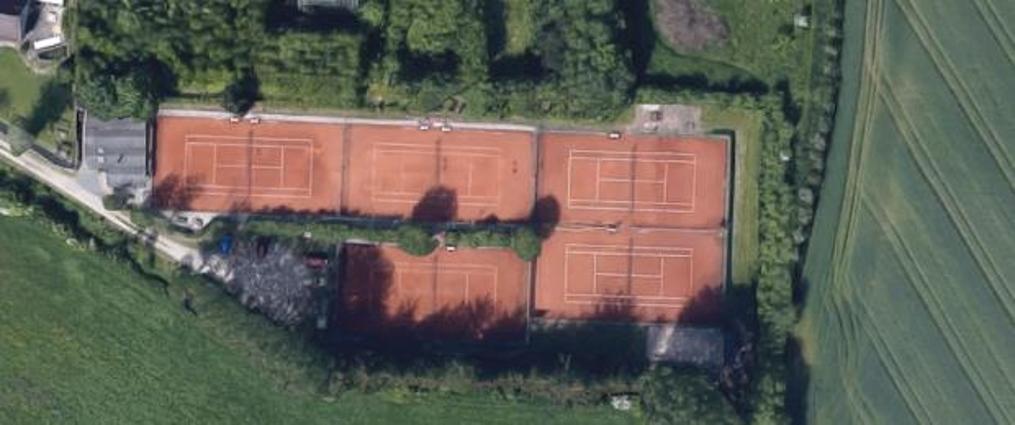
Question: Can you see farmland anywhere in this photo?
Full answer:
Yes, there is farmland in the image.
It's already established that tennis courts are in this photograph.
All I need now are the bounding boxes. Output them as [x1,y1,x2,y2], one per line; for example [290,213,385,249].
[339,243,531,345]
[342,124,538,223]
[533,226,725,325]
[150,117,345,217]
[536,131,728,231]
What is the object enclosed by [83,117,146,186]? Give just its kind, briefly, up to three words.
building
